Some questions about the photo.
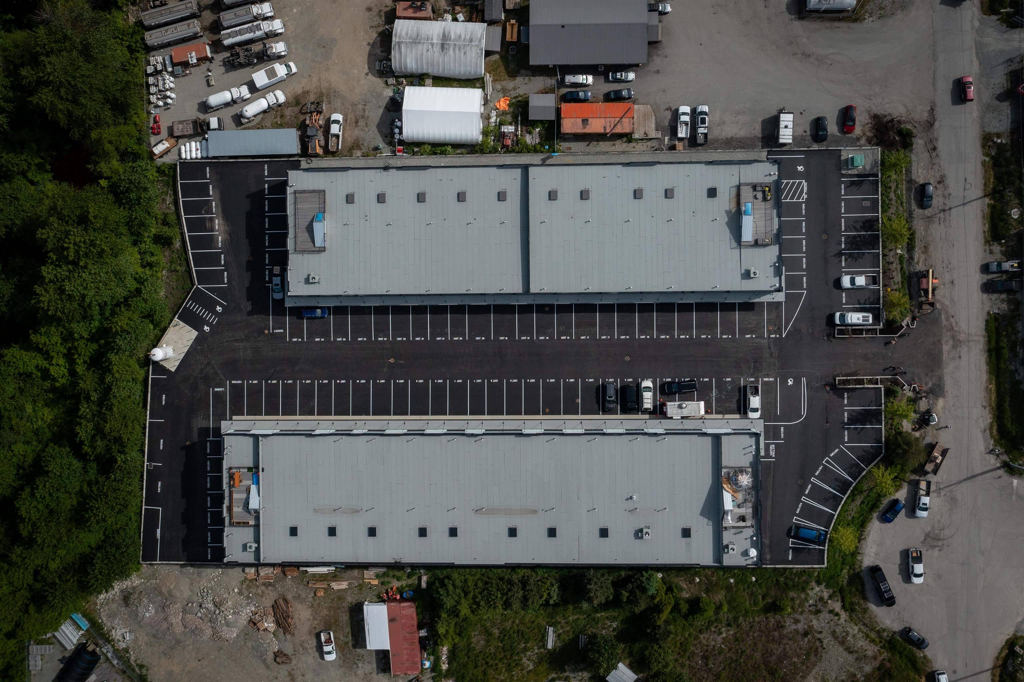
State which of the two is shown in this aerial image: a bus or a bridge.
bus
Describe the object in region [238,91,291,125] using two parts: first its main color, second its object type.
white truck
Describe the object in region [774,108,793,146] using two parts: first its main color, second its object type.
white trailer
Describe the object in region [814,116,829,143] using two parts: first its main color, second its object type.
black car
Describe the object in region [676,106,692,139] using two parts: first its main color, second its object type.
white vehicle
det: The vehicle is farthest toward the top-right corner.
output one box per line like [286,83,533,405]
[957,75,976,103]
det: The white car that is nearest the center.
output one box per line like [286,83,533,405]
[640,380,654,411]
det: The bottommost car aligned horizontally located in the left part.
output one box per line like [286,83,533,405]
[302,306,330,320]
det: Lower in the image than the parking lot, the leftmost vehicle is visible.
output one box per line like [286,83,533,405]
[320,628,337,661]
